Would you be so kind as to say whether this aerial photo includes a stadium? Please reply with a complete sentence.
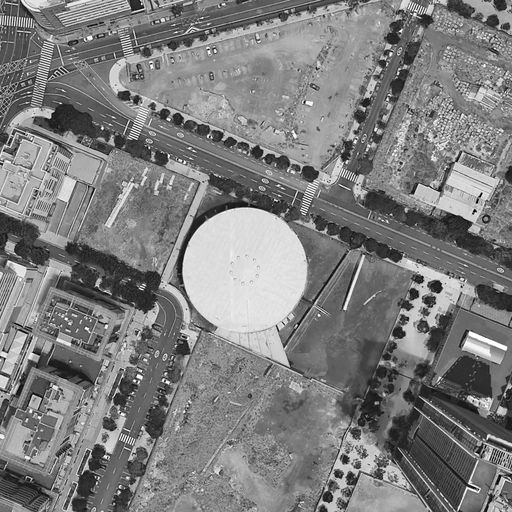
Yes, I can see a stadium in this picture.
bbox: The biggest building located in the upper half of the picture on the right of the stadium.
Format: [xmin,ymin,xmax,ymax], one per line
[434,152,500,226]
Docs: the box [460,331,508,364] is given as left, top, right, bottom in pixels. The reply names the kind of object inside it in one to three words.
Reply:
building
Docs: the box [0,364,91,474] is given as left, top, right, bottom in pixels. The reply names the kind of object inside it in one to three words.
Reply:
building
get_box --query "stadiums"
[179,203,312,366]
